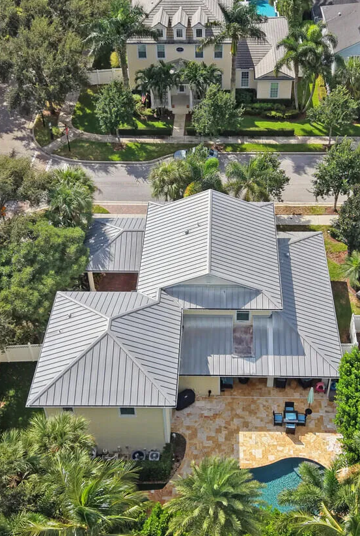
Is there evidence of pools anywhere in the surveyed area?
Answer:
Yes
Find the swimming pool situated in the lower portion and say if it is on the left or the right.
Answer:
right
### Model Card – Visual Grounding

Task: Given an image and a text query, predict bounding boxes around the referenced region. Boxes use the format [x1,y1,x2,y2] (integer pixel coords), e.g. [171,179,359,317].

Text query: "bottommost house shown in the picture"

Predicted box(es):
[25,190,346,452]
